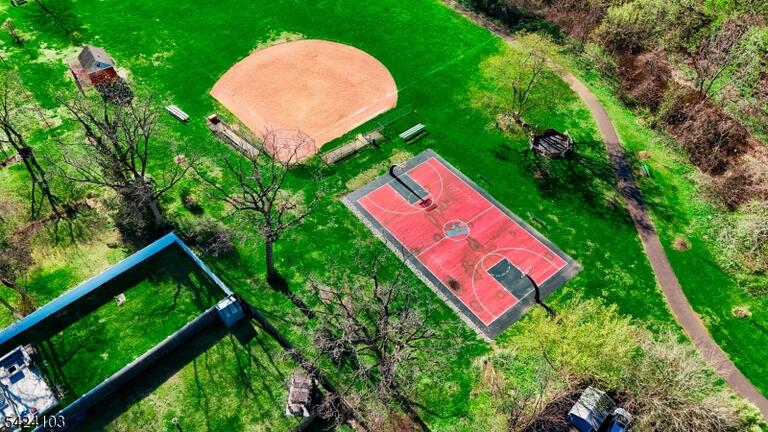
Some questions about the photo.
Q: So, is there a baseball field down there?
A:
Yes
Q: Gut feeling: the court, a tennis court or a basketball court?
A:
basketball court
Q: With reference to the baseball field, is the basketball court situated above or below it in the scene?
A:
below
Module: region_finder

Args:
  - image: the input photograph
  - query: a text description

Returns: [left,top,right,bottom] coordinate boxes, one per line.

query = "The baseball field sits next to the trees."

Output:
[196,39,488,165]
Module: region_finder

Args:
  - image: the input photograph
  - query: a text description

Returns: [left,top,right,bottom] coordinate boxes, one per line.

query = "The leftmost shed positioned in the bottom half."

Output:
[214,291,246,326]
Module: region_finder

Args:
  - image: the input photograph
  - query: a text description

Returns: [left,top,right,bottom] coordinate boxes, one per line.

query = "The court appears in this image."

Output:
[343,150,582,342]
